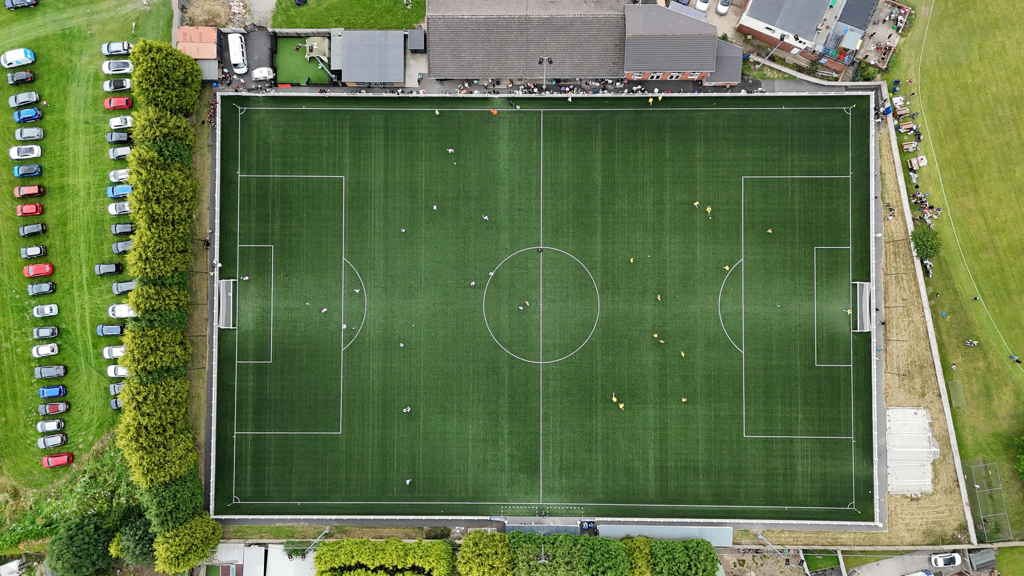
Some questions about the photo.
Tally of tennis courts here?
none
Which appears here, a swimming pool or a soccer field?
soccer field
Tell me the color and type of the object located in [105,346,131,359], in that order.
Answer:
white vehicle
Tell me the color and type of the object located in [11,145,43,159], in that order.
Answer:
white car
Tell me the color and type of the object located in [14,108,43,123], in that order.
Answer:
blue car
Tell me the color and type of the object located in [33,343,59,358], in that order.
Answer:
white car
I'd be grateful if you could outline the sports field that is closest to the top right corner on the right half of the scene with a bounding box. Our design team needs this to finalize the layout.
[885,0,1024,544]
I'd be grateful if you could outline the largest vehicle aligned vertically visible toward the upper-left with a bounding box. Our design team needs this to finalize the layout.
[227,33,250,76]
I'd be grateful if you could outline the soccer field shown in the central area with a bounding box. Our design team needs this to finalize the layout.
[215,95,875,522]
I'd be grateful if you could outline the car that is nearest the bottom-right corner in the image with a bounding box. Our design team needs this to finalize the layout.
[929,553,961,568]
